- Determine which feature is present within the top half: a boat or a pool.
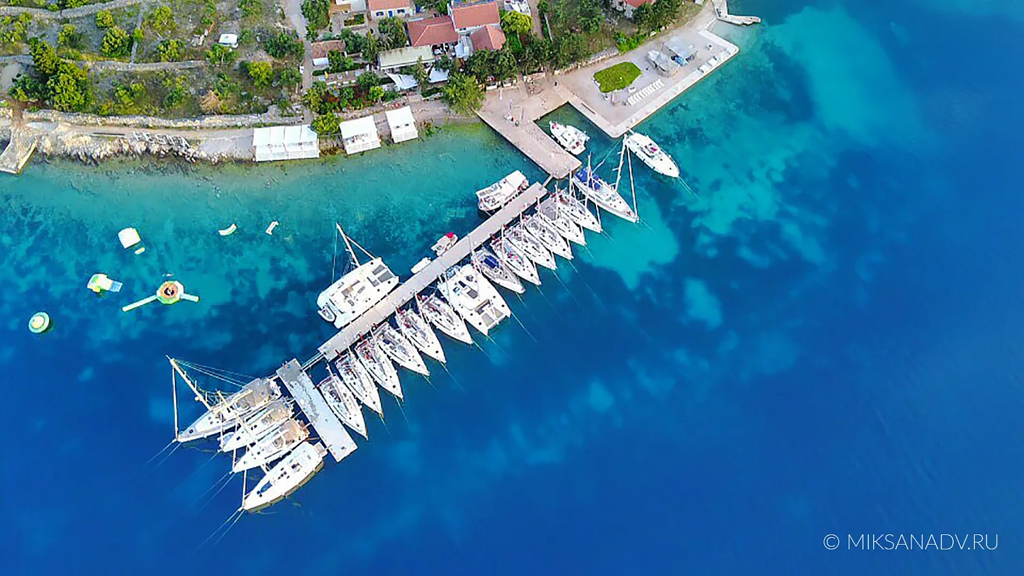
boat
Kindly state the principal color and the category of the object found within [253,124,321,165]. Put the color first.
white gazebo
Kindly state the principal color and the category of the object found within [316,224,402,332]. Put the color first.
white boat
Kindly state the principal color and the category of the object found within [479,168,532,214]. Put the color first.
white boat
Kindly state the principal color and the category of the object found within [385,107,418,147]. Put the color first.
white gazebo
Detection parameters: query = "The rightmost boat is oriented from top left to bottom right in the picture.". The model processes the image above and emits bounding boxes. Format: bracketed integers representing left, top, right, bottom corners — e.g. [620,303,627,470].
[618,126,702,204]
